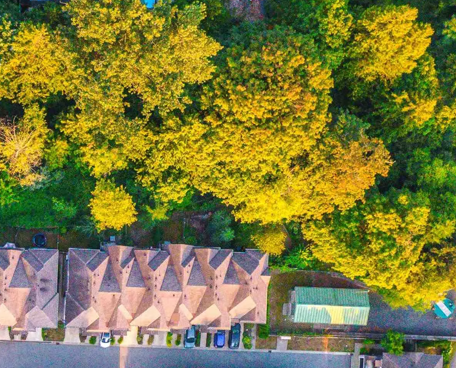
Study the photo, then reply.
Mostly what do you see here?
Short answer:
trees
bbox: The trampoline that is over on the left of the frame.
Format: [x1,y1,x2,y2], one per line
[30,231,48,247]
